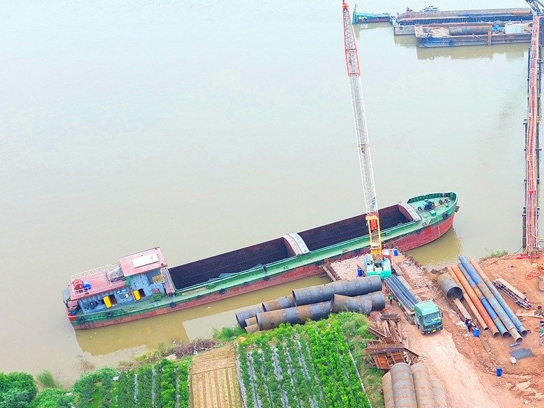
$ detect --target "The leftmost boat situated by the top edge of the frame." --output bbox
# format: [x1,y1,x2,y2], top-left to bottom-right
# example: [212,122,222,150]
[353,0,393,23]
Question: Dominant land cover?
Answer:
water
